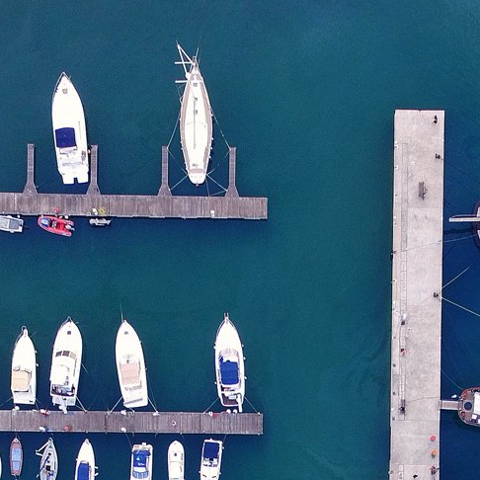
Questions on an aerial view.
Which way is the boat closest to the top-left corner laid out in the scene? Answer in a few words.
vertically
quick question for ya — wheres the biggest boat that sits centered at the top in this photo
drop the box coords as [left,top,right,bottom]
[176,49,215,188]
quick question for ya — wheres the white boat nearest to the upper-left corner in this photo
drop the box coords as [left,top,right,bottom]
[50,67,89,185]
